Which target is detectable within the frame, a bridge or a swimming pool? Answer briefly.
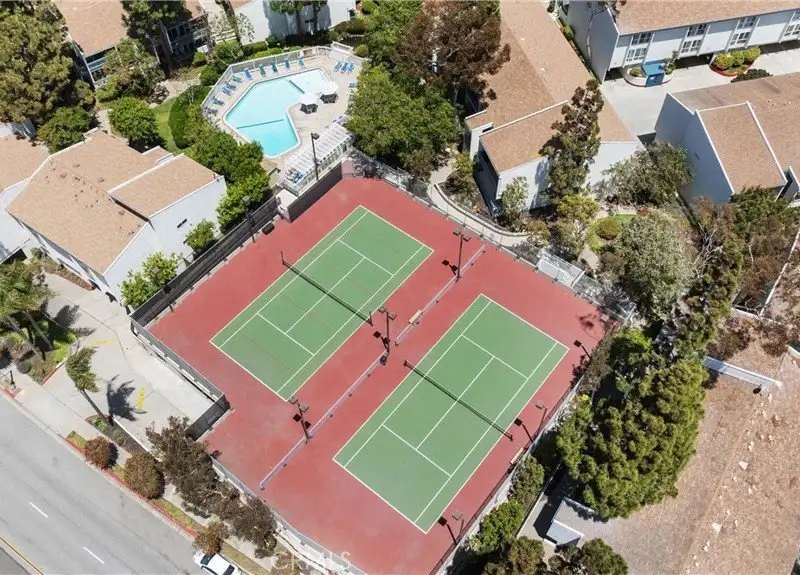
swimming pool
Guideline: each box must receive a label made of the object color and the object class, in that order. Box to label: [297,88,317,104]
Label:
white umbrella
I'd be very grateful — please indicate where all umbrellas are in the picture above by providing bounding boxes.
[297,88,317,104]
[316,79,339,94]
